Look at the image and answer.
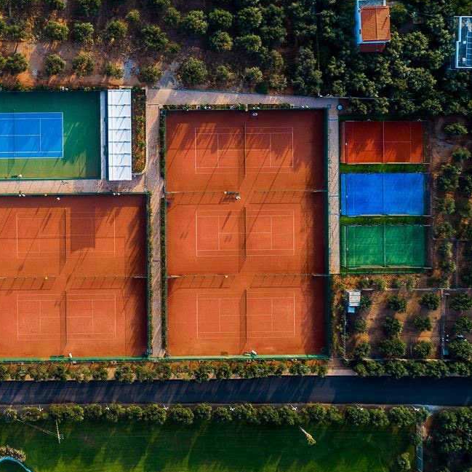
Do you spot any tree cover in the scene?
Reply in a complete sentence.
Yes, tree cover shows up in the scene.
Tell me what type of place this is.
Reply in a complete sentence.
This looks like a sports ground.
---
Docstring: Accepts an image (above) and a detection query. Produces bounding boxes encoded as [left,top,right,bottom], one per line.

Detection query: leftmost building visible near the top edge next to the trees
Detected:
[353,0,391,52]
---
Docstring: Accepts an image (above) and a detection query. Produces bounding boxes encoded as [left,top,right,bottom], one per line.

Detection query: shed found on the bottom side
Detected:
[345,290,361,313]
